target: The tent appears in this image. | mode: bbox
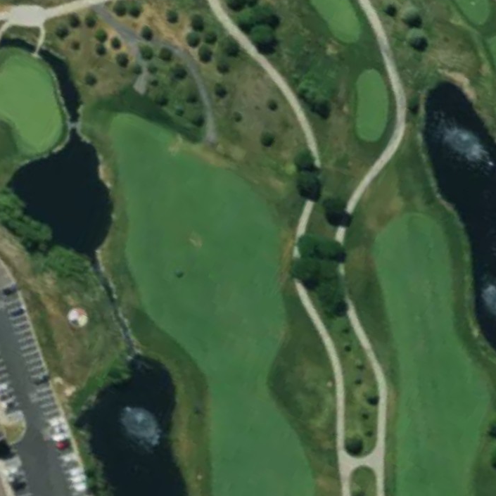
[67,307,87,327]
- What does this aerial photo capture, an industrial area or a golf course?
golf course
